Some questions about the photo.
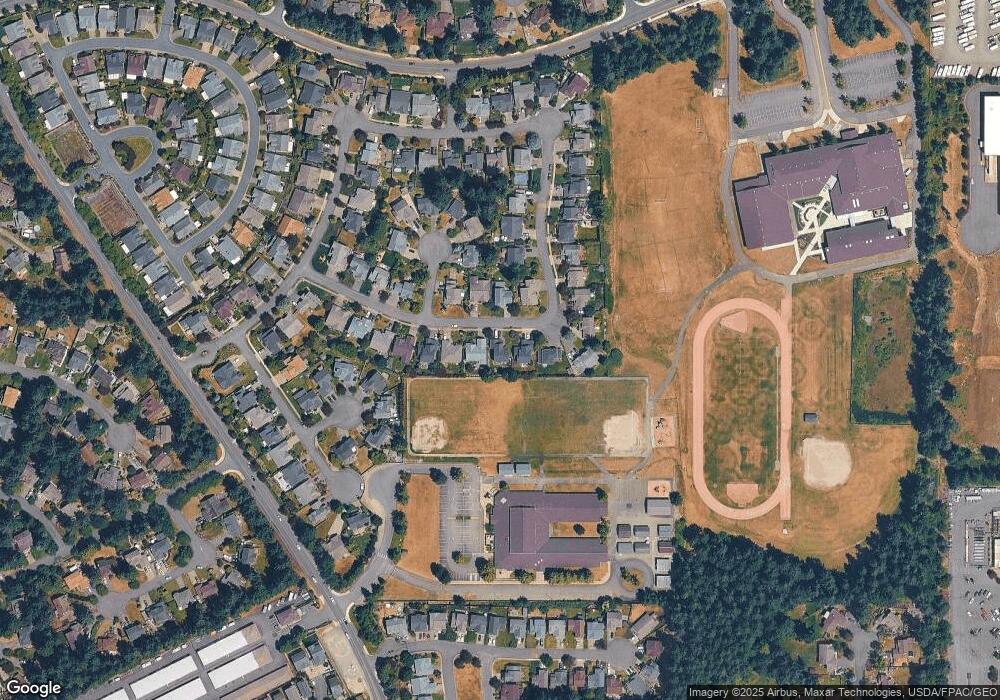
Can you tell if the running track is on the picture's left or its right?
right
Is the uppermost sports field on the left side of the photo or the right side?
right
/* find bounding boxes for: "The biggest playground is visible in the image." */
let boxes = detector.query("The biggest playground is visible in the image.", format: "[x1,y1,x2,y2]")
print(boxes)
[653,417,676,447]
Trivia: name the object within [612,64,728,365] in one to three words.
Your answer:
sports field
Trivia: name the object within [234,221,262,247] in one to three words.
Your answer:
house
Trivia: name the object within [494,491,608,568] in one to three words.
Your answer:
building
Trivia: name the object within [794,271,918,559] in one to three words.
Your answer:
baseball field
